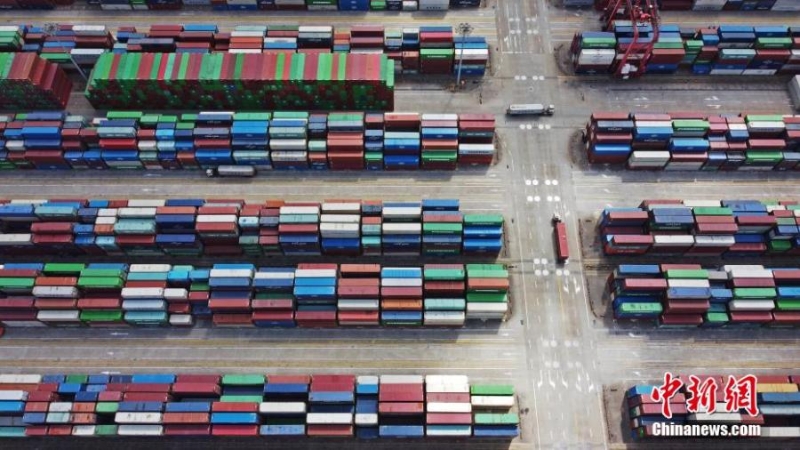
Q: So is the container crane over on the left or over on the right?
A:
right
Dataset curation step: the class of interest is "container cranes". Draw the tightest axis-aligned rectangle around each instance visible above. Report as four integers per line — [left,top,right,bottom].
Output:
[604,0,664,82]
